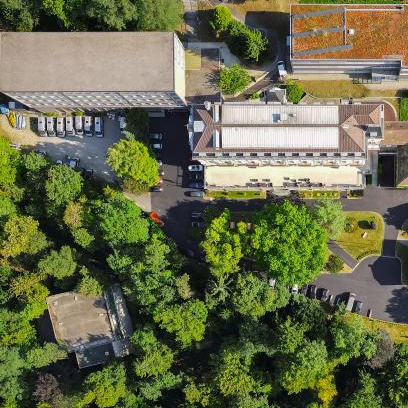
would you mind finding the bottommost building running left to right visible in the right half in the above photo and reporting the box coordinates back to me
[190,102,385,197]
